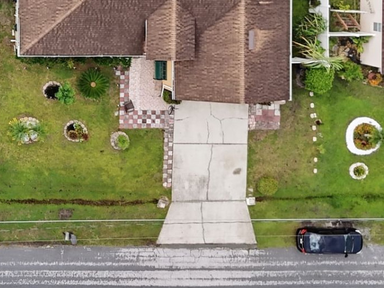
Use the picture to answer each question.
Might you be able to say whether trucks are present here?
No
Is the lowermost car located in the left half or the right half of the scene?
right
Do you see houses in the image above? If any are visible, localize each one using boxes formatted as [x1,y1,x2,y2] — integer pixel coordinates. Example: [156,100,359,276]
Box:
[362,0,384,75]
[14,0,294,103]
